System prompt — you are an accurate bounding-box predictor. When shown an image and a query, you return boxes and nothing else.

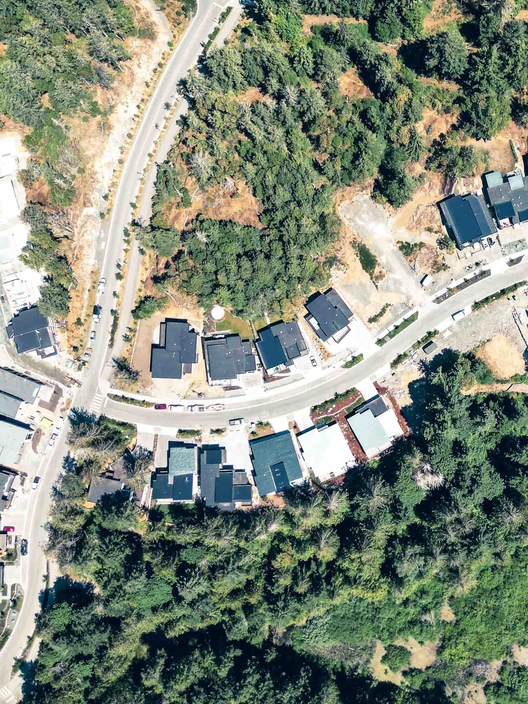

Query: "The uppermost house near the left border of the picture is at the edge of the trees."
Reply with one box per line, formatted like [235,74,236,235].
[7,308,58,359]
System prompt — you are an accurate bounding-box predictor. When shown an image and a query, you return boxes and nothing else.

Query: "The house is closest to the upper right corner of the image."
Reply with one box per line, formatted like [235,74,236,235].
[485,172,528,224]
